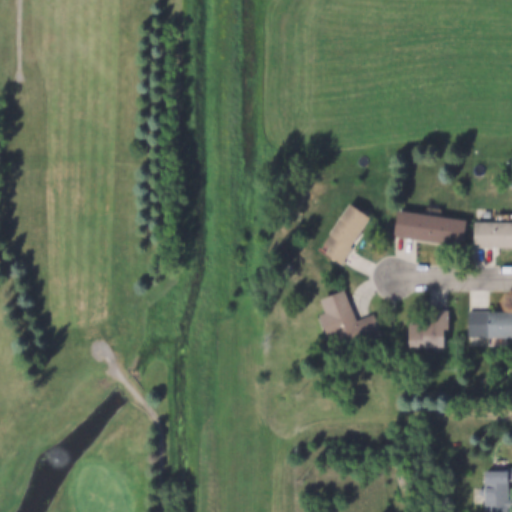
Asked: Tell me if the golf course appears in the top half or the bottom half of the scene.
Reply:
top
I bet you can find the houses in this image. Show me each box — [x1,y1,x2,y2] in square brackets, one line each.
[320,205,370,264]
[316,290,380,336]
[409,310,450,348]
[474,222,512,248]
[469,312,512,339]
[485,471,512,512]
[396,211,467,245]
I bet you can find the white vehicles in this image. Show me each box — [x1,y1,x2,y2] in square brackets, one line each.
[503,267,512,274]
[406,240,412,253]
[416,286,426,291]
[416,266,429,272]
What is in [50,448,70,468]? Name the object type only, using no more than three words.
fountain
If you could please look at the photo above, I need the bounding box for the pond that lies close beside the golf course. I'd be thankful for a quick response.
[18,390,124,512]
